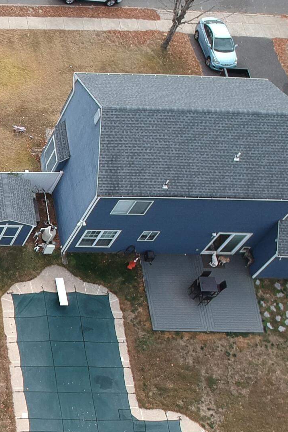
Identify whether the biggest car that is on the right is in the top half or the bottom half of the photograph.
top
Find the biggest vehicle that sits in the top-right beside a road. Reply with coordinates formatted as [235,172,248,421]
[196,7,252,67]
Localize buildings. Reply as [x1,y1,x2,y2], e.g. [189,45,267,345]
[0,171,36,248]
[38,69,288,284]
